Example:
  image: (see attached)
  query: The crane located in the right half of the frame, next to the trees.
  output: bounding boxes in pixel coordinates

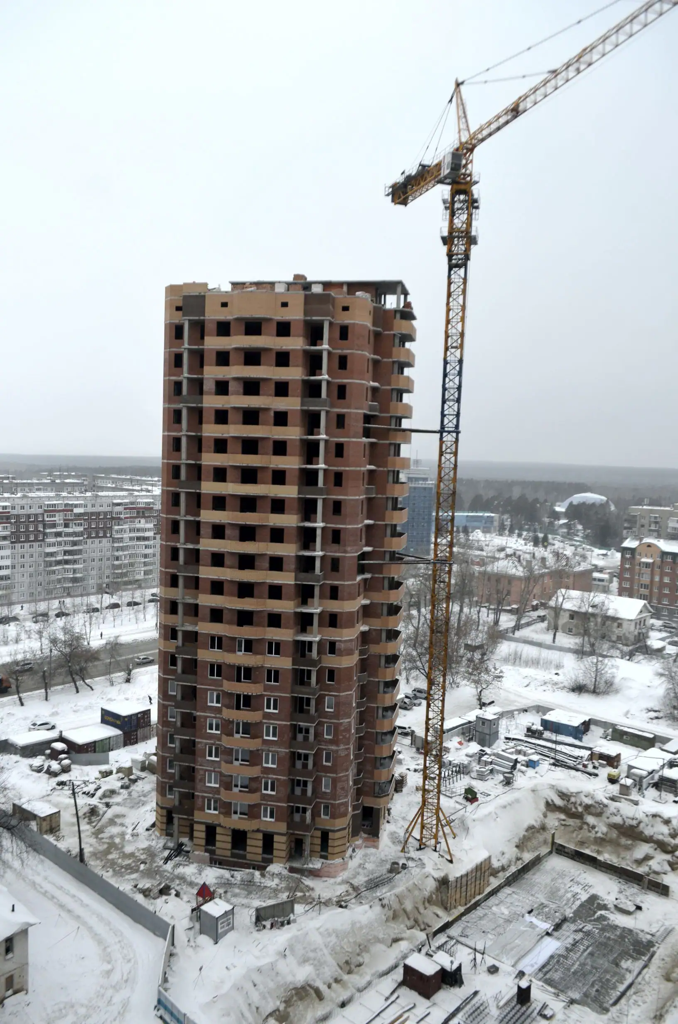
[361,0,678,865]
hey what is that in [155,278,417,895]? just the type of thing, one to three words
building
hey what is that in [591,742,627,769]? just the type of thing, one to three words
shed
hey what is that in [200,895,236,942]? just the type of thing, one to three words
building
